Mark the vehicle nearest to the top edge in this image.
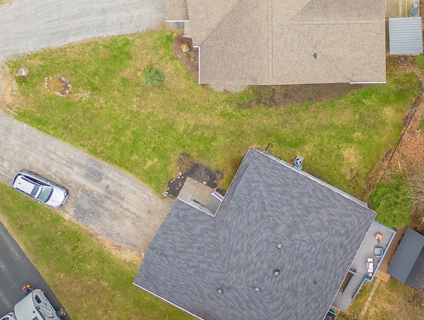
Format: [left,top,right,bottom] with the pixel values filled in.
[7,168,70,210]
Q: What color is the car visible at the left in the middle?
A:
white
